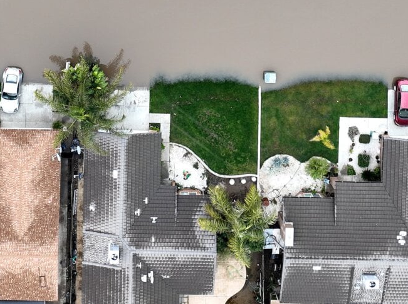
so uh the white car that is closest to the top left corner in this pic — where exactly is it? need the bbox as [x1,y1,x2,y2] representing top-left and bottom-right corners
[0,63,25,114]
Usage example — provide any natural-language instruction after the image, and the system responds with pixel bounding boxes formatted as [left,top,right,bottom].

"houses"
[81,129,216,304]
[0,126,62,300]
[281,136,408,304]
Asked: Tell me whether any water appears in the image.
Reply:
Yes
